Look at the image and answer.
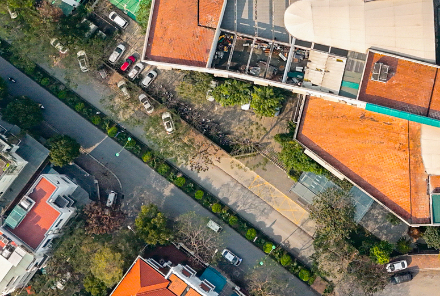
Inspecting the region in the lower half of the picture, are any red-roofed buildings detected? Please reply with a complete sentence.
Yes, looking in the lower half of the picture, one can make out a red-roofed building.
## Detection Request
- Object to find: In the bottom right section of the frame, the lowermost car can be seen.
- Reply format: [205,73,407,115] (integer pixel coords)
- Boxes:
[390,272,412,285]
